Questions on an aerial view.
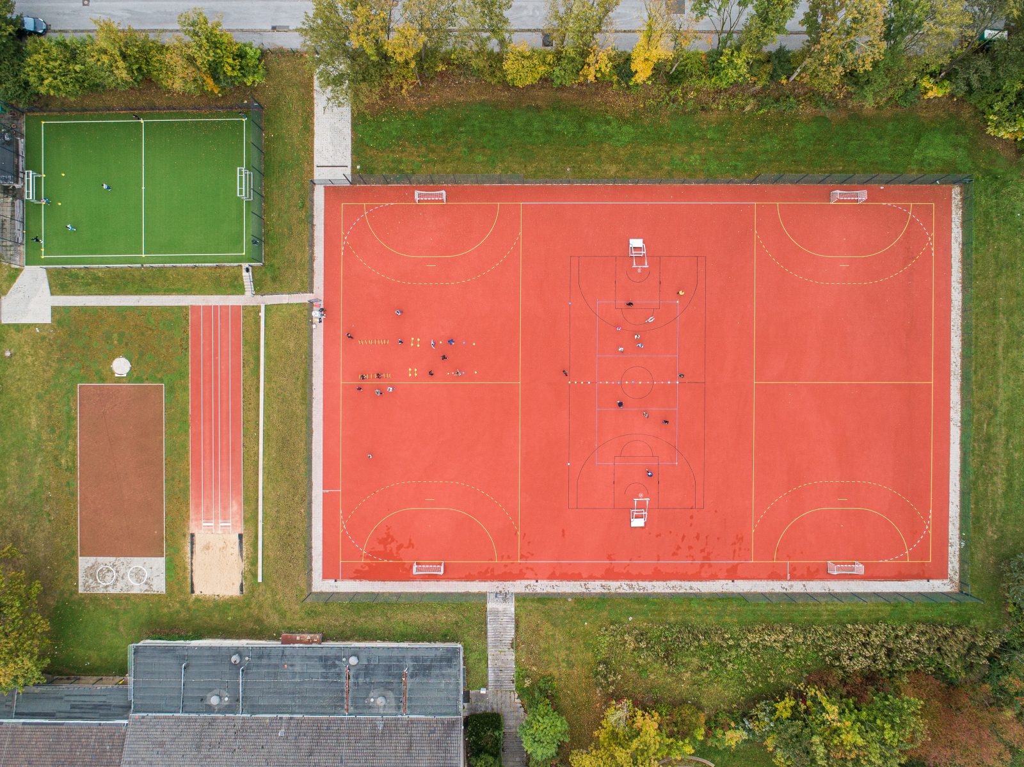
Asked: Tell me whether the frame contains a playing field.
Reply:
Yes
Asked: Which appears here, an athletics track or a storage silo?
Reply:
athletics track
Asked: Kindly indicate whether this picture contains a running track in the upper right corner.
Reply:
No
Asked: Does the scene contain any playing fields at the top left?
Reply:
Yes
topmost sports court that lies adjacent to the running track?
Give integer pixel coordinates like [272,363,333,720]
[322,184,953,580]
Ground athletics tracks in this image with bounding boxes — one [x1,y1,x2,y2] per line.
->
[189,306,244,533]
